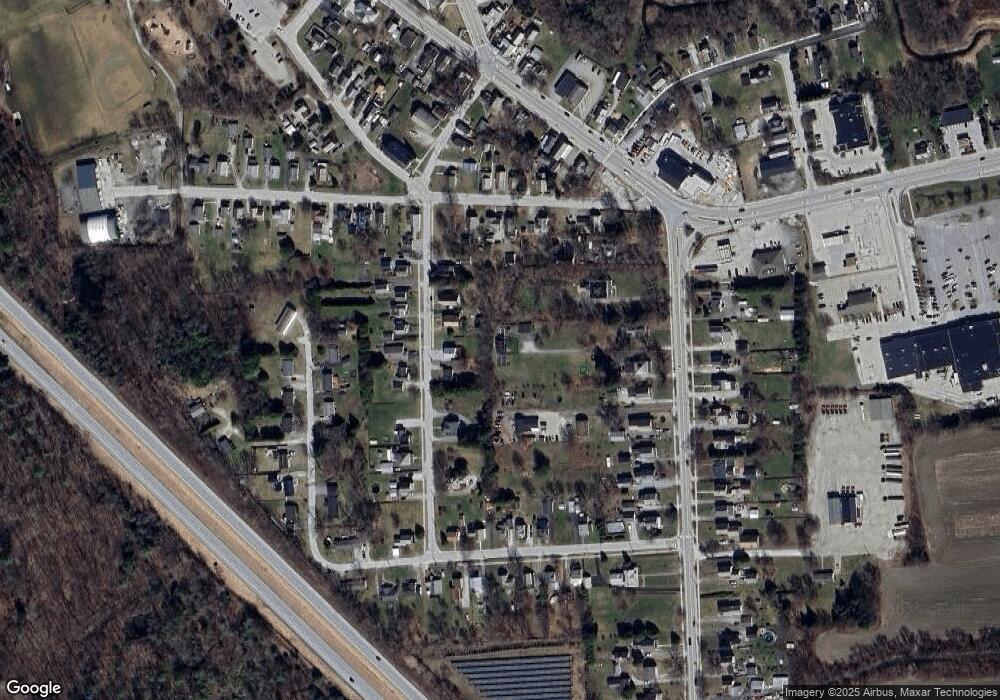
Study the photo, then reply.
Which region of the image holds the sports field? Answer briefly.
top left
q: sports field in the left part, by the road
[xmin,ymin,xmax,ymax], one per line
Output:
[2,0,170,152]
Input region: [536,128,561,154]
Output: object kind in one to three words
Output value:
building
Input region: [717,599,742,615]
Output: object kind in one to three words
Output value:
house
